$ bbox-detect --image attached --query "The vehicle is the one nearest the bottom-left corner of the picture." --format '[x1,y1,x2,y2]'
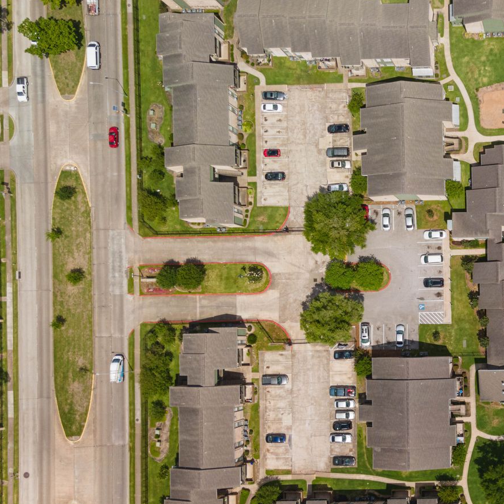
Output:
[109,356,123,381]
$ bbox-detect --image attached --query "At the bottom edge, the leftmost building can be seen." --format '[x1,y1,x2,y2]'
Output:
[164,328,255,504]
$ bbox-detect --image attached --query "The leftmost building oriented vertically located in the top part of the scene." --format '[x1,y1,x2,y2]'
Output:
[157,10,247,224]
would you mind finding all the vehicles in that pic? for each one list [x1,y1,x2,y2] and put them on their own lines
[394,325,405,347]
[329,158,351,169]
[260,101,283,112]
[333,421,352,431]
[14,75,28,102]
[335,411,355,420]
[261,147,282,157]
[86,43,99,67]
[332,457,355,467]
[109,356,123,381]
[423,278,444,288]
[360,323,371,346]
[333,399,356,408]
[330,433,352,444]
[86,0,98,14]
[423,229,446,240]
[332,350,355,360]
[380,207,391,230]
[404,207,414,230]
[329,386,356,397]
[326,182,348,191]
[420,254,444,263]
[265,433,286,443]
[107,126,118,147]
[263,170,286,181]
[261,375,288,386]
[262,89,285,100]
[327,123,349,132]
[326,146,348,157]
